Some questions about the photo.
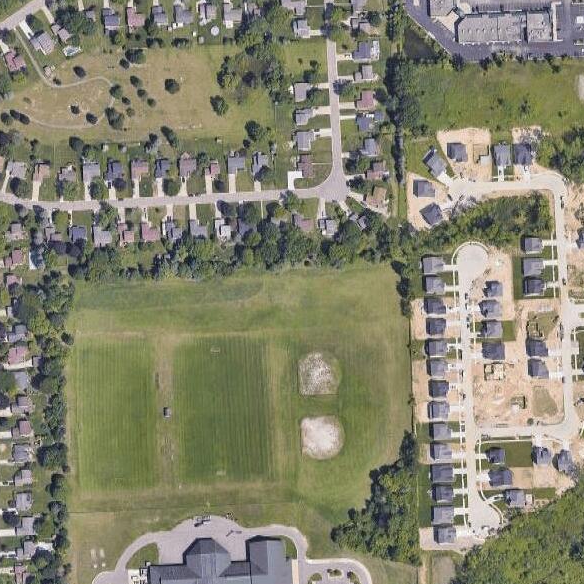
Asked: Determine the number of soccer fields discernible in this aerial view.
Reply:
2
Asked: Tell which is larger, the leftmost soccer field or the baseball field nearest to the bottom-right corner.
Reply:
the soccer field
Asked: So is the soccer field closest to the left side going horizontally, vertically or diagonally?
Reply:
vertically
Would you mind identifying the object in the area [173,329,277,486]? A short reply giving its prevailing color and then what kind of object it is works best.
green soccer field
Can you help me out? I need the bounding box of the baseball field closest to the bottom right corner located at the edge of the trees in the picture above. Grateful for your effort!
[296,411,350,465]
